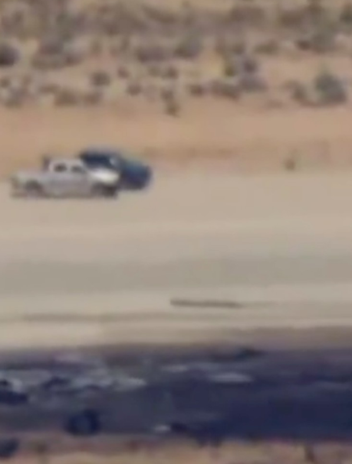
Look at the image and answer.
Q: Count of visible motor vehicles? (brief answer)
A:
2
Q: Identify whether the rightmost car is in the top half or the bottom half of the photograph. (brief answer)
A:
top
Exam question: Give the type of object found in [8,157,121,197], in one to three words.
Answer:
truck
